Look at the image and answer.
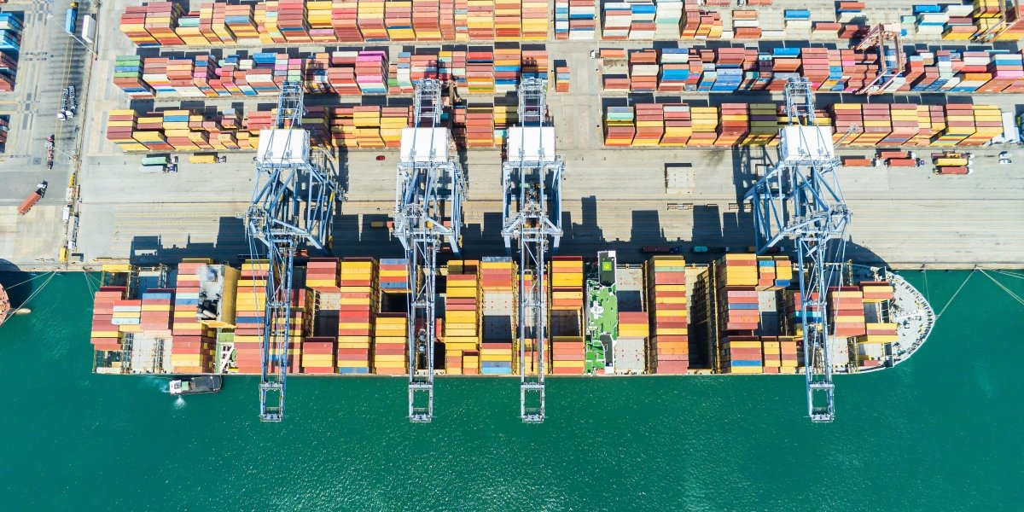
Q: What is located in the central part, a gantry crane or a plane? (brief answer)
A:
gantry crane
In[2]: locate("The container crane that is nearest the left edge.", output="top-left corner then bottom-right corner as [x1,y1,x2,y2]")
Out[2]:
[241,81,349,421]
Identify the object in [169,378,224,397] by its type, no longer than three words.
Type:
boat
